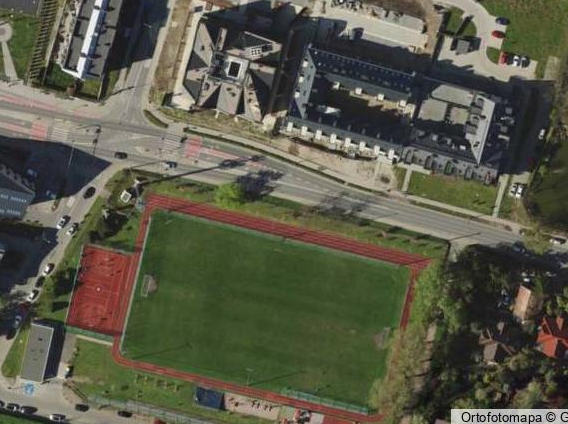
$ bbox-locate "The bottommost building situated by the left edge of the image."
[21,322,54,382]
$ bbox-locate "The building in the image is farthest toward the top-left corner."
[63,0,125,78]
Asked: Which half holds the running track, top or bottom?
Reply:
bottom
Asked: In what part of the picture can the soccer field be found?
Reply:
bottom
